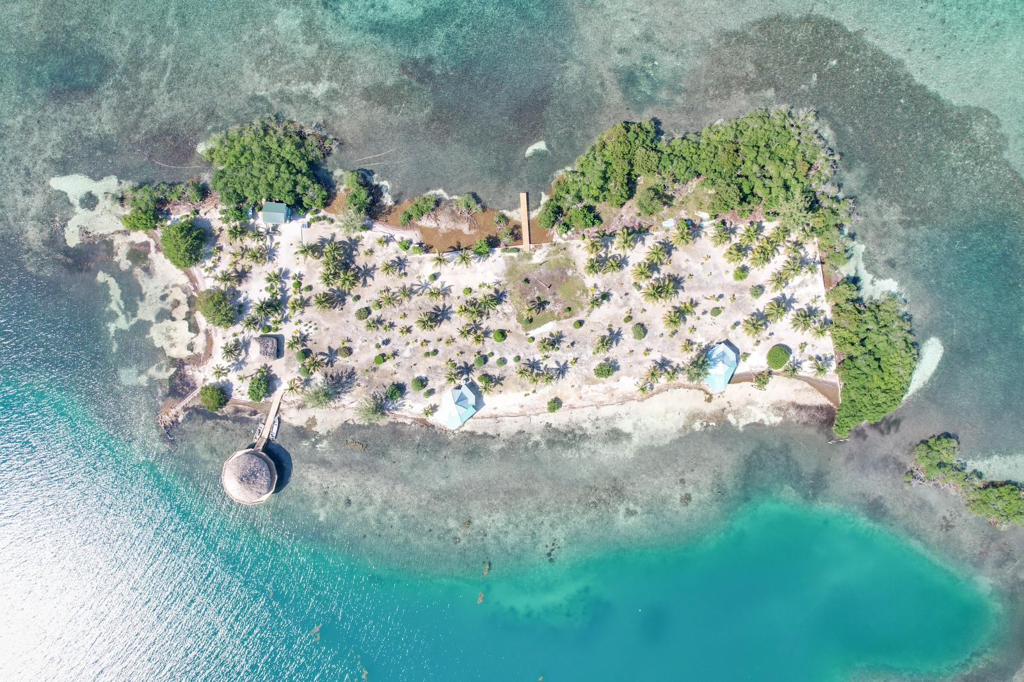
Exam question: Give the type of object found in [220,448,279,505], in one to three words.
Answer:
building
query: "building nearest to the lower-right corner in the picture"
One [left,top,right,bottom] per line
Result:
[704,343,737,391]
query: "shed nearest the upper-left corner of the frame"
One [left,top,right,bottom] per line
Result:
[262,202,291,223]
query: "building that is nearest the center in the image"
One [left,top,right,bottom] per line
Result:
[444,385,476,429]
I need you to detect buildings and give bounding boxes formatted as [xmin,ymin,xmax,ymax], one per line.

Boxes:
[220,448,279,505]
[704,343,737,391]
[444,385,476,429]
[249,336,278,363]
[262,202,291,223]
